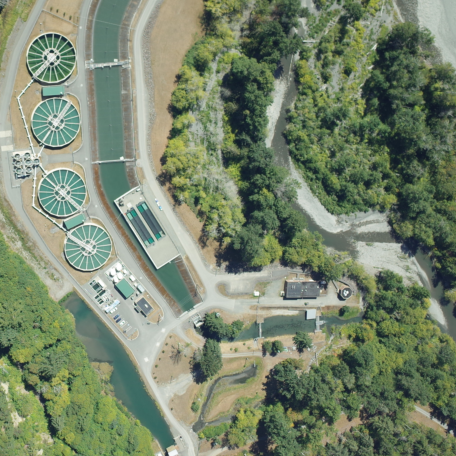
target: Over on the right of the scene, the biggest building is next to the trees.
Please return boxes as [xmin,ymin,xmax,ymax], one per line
[284,280,327,297]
